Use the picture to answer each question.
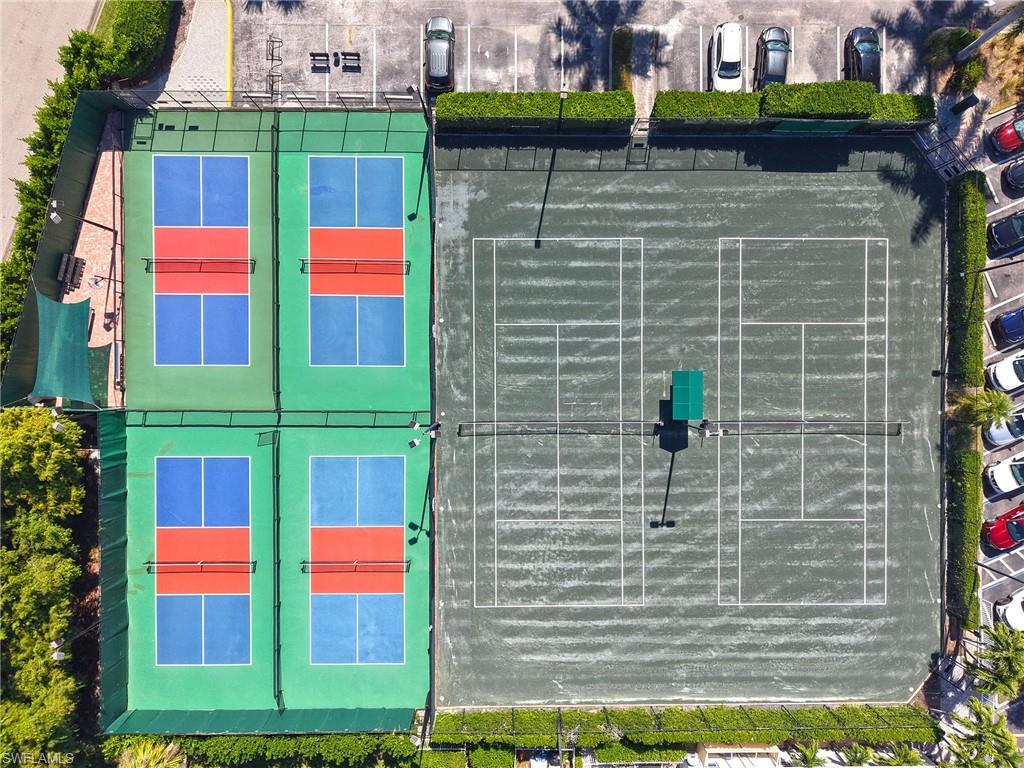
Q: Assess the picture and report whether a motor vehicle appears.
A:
Yes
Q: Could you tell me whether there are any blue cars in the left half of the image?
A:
No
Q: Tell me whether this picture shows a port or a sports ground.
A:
sports ground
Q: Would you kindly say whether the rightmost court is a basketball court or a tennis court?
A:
tennis court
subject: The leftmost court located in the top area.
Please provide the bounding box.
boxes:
[123,110,277,411]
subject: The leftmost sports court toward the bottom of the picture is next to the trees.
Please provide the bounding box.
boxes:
[128,413,278,709]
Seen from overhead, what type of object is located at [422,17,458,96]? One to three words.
car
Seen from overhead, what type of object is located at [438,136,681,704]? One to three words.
tennis court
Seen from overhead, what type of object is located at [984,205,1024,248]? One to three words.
car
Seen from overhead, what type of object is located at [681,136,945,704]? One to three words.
tennis court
